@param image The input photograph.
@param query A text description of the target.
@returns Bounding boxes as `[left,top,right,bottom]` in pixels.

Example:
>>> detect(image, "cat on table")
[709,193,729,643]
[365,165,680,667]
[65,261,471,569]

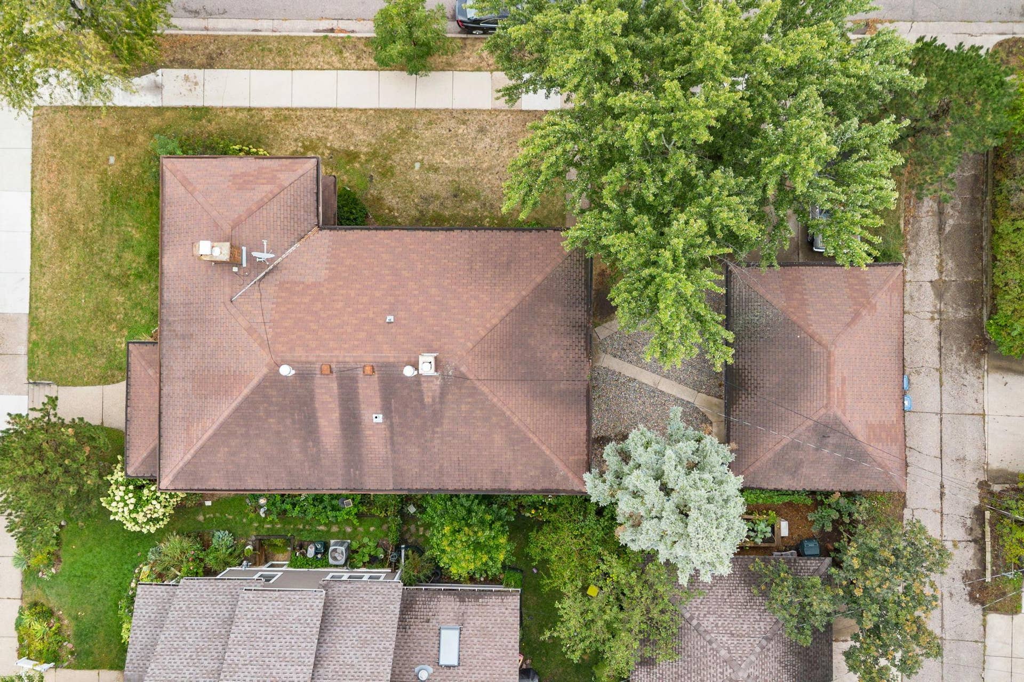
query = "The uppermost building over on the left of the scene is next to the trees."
[126,156,594,493]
